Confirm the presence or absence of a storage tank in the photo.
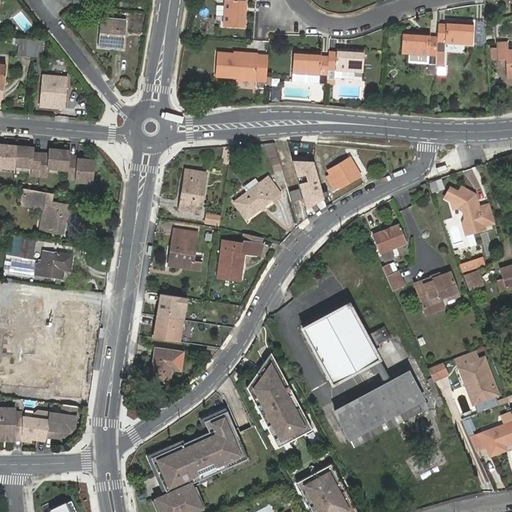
No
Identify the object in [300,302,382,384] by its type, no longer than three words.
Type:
building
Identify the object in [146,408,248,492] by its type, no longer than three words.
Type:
building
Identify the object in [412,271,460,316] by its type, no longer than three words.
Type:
house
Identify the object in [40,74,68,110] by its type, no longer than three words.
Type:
house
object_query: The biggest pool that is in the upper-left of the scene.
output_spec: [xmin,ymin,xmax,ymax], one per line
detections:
[12,10,33,32]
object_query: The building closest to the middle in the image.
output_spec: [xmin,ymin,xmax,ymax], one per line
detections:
[216,238,264,282]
